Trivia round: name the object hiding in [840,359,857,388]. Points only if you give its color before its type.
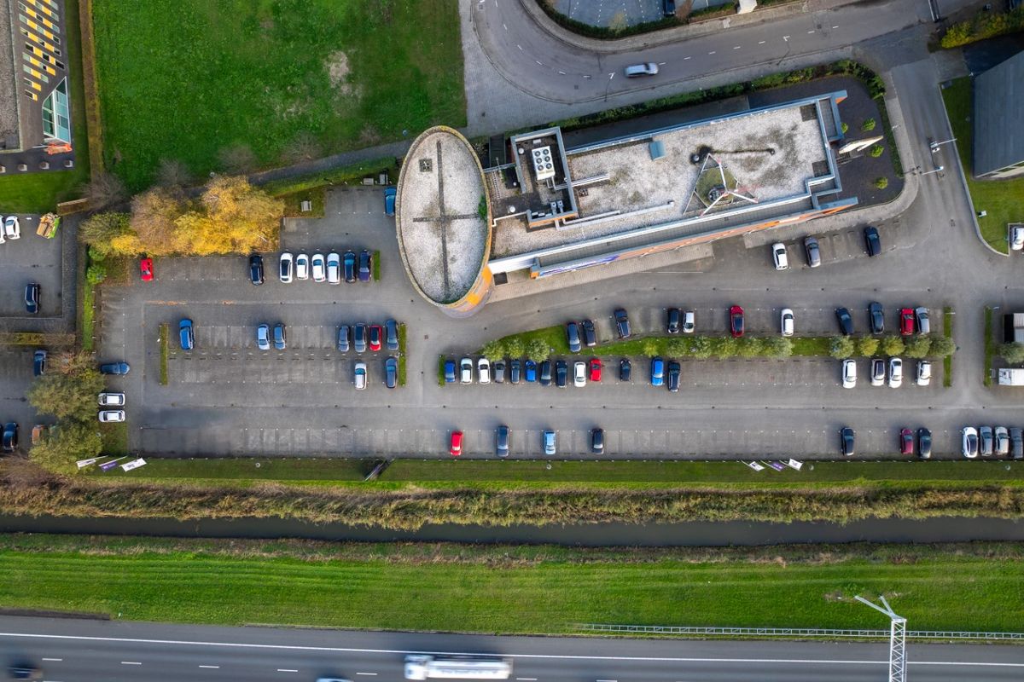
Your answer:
white car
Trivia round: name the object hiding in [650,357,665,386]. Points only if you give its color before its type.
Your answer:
blue car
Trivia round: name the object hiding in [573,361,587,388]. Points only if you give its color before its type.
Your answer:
white car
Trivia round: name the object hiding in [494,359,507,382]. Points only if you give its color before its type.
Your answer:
gray vehicle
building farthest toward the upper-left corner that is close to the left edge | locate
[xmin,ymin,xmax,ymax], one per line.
[0,0,71,152]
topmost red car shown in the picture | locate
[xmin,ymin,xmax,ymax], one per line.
[140,258,156,281]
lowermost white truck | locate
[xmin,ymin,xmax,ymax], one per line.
[405,652,512,679]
